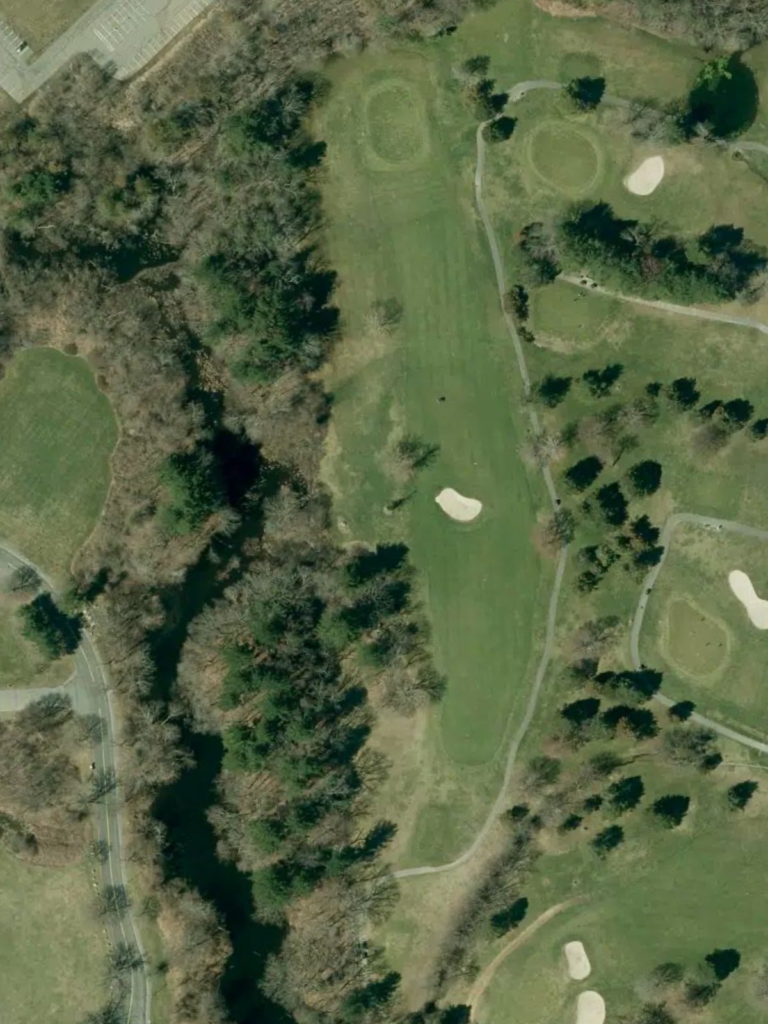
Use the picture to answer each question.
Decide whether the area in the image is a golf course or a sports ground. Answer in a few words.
golf course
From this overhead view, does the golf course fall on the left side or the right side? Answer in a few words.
right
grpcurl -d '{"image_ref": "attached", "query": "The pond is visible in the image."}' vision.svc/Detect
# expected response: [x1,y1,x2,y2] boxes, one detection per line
[687,54,759,138]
